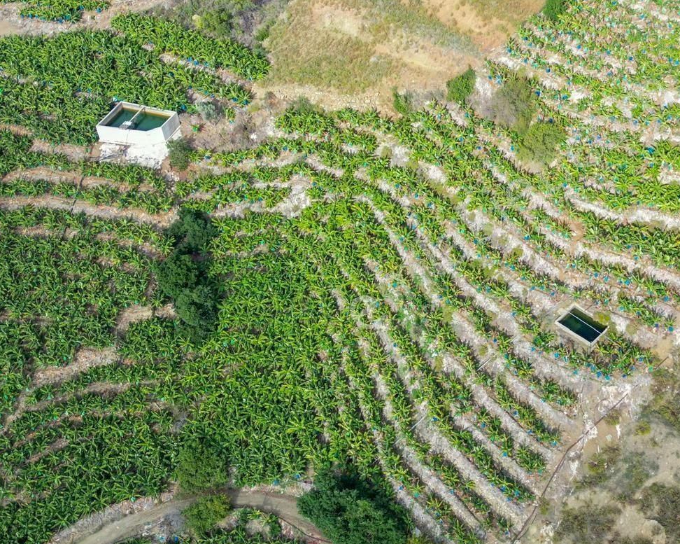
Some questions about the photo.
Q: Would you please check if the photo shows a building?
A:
No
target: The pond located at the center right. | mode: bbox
[554,304,623,352]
